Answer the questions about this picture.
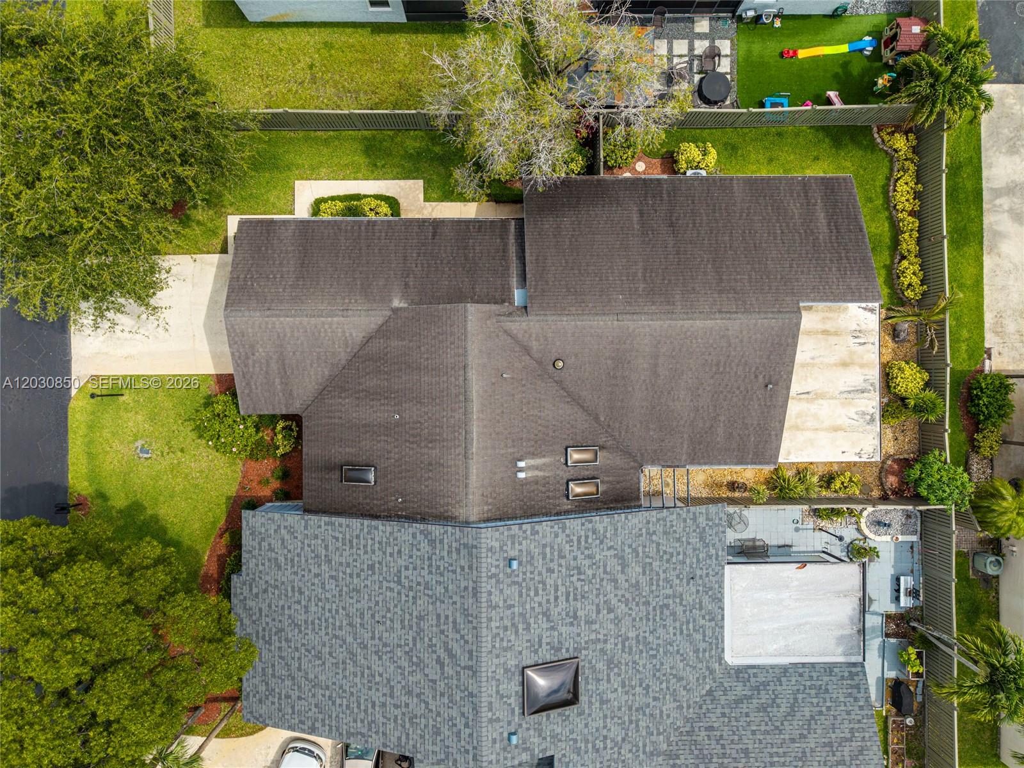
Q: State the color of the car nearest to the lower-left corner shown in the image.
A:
white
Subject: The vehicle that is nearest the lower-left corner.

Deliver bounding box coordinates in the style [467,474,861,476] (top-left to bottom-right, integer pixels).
[277,741,329,768]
